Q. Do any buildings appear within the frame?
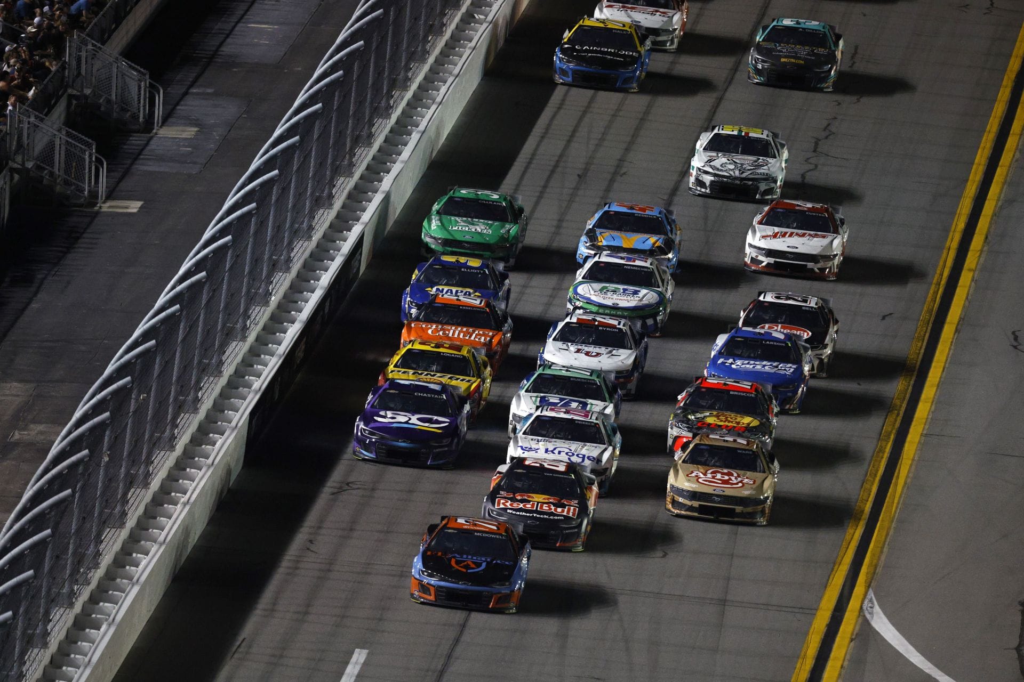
No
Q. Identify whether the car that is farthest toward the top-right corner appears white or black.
black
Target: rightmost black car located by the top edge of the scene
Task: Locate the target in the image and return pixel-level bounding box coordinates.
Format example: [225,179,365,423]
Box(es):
[749,18,844,91]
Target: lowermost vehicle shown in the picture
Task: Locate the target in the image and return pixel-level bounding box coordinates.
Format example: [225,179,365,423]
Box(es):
[412,516,531,614]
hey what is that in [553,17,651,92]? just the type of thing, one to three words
car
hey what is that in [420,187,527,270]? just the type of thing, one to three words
car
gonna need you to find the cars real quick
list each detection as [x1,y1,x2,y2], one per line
[412,516,531,614]
[594,0,688,50]
[402,257,512,330]
[381,338,492,428]
[566,252,673,337]
[705,329,813,414]
[553,17,651,92]
[738,291,840,378]
[538,315,647,400]
[576,201,682,281]
[420,187,527,270]
[667,376,779,456]
[353,379,471,471]
[745,201,847,280]
[402,296,513,380]
[749,18,844,91]
[508,363,622,443]
[482,458,600,553]
[664,432,779,526]
[689,126,789,203]
[507,405,622,498]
